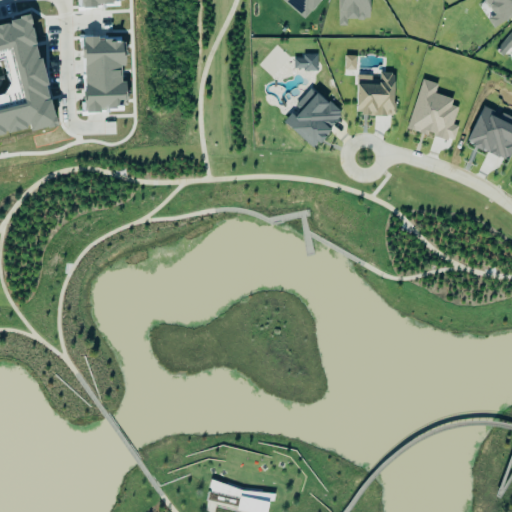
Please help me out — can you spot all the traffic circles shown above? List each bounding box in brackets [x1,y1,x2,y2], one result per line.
[340,132,390,182]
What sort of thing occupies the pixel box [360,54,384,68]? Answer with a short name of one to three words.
swimming pool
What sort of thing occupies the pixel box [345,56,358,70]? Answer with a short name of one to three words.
gazebo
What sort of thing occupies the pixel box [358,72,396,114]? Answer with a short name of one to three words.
house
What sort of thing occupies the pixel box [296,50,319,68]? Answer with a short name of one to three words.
building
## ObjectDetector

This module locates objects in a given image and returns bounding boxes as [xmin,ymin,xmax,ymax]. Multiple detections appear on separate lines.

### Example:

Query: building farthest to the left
[0,12,57,140]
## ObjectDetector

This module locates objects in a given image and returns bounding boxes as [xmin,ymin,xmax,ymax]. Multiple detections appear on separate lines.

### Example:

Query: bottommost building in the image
[208,480,276,512]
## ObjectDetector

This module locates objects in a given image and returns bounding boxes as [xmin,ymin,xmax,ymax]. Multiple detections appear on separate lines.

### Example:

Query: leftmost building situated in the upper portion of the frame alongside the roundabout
[288,84,342,146]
